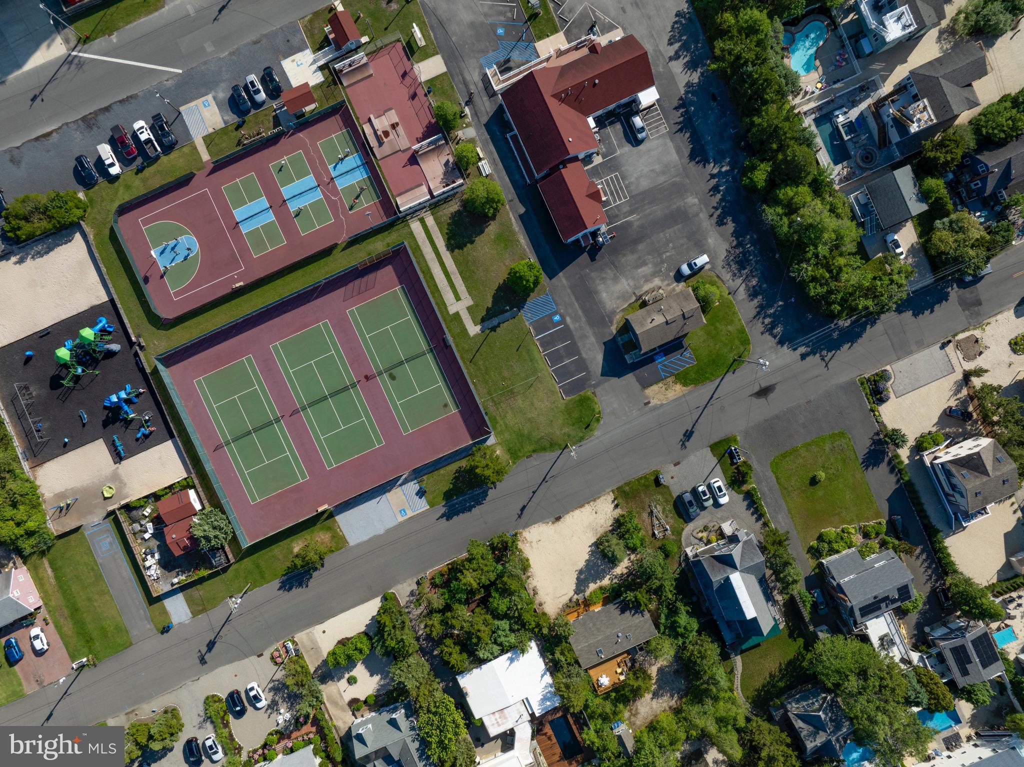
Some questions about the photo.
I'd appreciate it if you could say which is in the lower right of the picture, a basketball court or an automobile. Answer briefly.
automobile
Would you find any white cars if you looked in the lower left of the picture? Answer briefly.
Yes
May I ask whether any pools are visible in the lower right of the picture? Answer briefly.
Yes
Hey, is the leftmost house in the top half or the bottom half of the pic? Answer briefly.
bottom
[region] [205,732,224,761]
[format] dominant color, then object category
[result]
white car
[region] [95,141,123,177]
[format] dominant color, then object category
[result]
white truck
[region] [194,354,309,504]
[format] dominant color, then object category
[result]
green tennis court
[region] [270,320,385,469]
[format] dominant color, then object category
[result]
green tennis court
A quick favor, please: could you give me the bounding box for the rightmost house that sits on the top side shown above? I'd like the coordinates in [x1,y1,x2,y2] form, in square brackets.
[953,125,1024,201]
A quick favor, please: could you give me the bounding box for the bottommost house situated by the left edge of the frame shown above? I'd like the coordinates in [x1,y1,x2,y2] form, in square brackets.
[0,565,41,626]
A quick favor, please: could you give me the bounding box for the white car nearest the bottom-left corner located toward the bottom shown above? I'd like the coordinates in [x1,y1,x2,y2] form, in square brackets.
[32,626,50,652]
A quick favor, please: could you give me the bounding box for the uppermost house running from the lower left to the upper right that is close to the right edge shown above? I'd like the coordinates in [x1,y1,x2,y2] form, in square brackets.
[868,42,987,151]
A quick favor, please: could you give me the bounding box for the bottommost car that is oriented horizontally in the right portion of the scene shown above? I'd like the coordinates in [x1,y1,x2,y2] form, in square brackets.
[941,405,972,421]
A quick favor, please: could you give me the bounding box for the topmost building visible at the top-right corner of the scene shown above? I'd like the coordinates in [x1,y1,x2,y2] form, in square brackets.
[840,0,946,61]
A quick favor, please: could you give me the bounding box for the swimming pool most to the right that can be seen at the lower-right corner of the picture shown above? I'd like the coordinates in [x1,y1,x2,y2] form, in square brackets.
[990,624,1021,650]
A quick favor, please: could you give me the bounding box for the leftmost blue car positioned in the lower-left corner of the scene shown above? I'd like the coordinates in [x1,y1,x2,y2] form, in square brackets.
[6,634,26,664]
